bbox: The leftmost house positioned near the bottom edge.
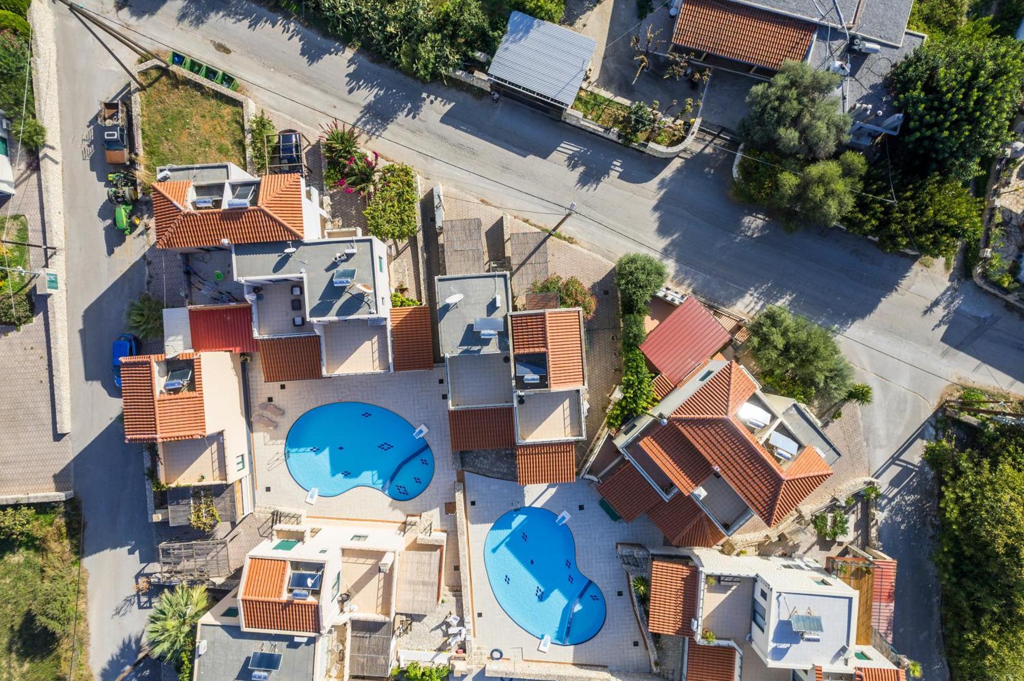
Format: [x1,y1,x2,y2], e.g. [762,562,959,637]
[194,515,449,681]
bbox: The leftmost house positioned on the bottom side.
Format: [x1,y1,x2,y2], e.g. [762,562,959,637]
[119,351,259,513]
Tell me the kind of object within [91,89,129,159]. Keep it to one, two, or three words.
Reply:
truck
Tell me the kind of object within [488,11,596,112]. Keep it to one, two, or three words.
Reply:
shed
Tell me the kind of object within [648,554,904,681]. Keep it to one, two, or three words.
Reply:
house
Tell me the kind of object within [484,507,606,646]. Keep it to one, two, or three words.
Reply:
swimming pool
